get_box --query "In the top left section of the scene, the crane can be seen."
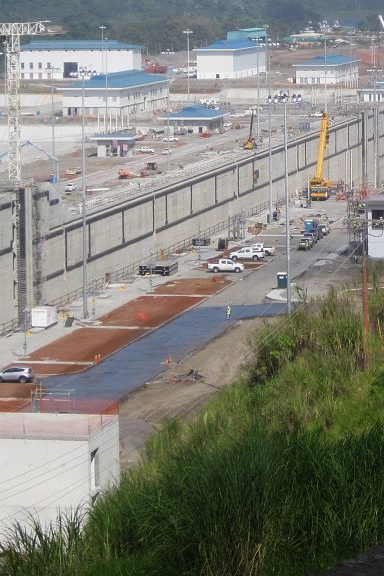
[0,19,63,182]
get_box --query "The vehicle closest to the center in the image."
[209,257,243,270]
